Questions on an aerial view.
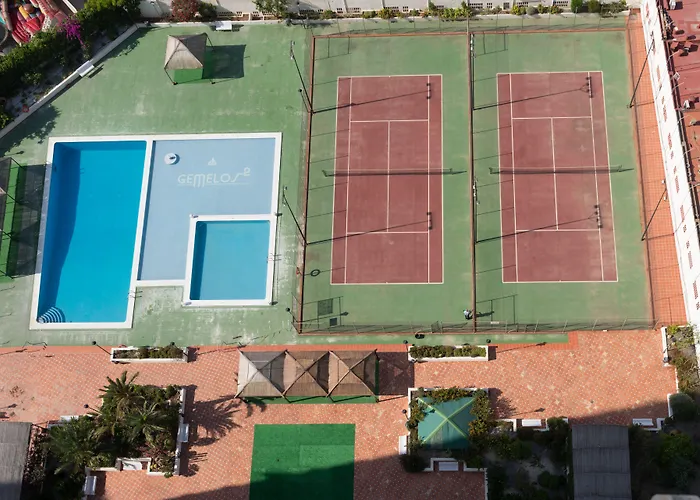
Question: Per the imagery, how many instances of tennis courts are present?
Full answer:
The count of tennis courts comes to 2.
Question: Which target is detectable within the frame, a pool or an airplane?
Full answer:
It is a pool that can be seen here.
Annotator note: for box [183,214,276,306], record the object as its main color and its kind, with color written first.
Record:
blue swimming pool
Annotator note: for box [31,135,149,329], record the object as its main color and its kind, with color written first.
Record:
blue swimming pool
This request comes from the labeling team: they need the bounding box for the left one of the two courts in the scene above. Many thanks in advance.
[300,34,473,332]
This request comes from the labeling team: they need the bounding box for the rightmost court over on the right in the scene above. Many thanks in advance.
[472,29,651,330]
